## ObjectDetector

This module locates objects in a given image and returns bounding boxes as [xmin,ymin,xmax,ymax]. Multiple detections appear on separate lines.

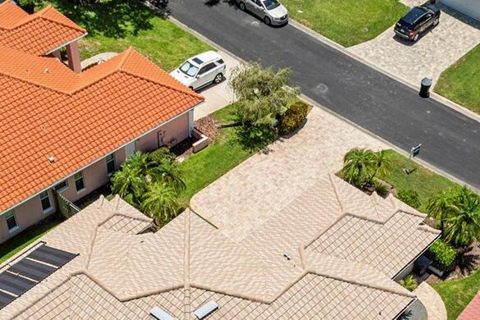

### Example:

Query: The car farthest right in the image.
[392,1,446,41]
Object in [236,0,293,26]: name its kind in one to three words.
car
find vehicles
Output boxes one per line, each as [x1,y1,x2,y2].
[392,1,446,41]
[165,44,230,89]
[236,0,293,26]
